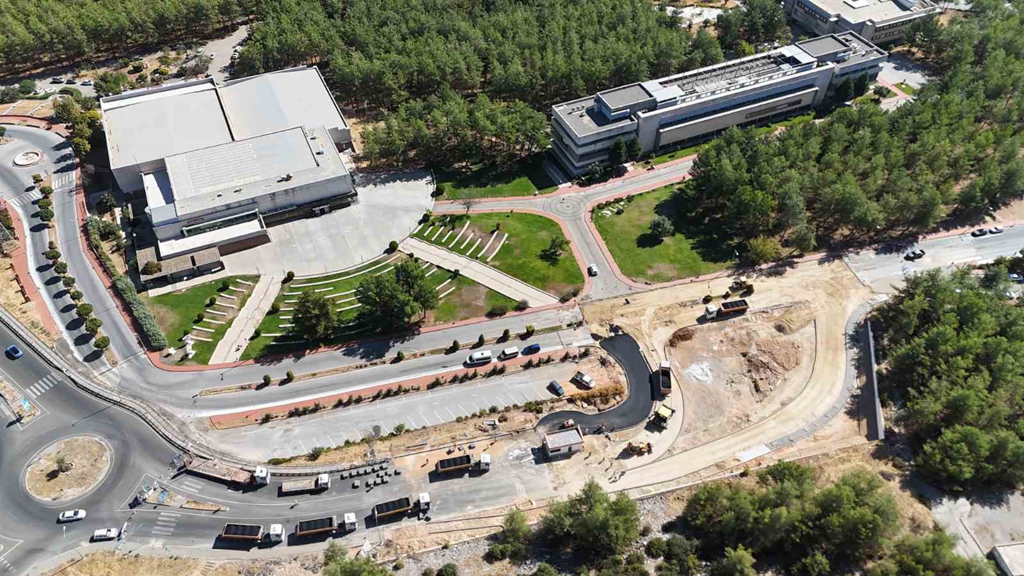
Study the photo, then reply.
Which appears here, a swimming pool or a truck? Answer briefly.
truck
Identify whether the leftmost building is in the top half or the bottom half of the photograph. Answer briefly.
top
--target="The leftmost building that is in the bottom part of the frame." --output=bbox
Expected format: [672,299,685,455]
[543,428,584,461]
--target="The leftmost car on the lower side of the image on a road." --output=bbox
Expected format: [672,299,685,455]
[5,346,23,359]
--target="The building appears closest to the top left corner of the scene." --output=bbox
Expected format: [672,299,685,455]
[99,61,358,291]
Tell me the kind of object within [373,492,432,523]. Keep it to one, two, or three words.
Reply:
truck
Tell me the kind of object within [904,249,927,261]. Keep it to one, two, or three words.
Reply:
vehicle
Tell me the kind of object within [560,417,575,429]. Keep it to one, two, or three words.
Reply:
vehicle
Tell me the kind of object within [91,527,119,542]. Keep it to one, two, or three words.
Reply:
car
